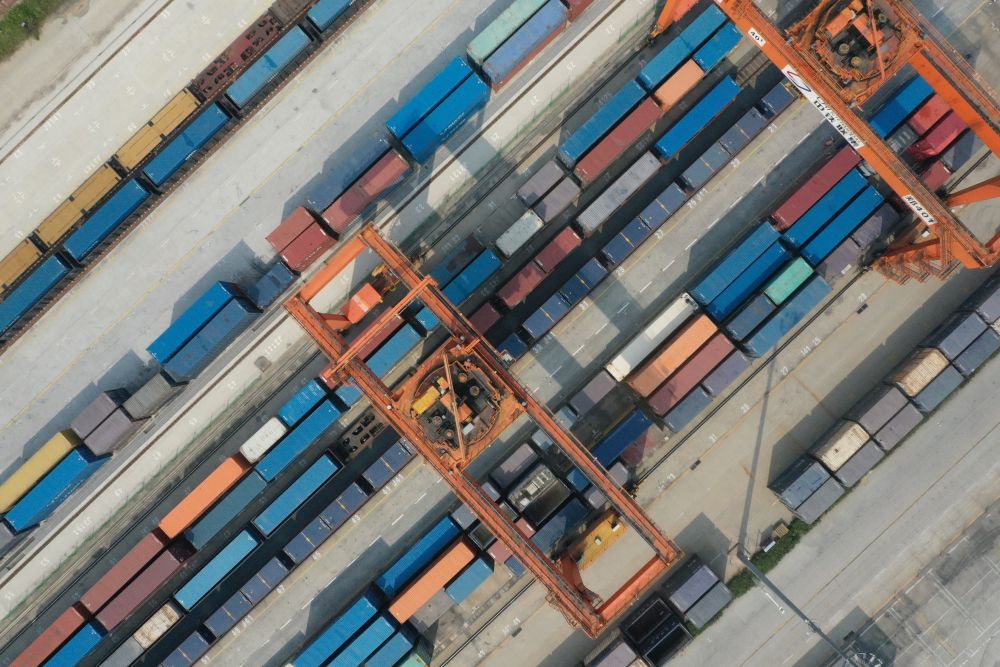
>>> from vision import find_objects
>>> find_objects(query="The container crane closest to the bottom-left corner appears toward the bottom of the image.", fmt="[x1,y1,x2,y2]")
[277,213,692,656]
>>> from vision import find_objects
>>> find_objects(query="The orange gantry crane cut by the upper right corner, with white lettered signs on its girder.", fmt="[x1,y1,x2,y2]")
[636,0,1000,304]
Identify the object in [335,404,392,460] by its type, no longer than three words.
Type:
rail car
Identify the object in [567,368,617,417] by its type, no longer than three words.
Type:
shipping container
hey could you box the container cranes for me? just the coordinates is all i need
[636,0,1000,304]
[277,213,692,656]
